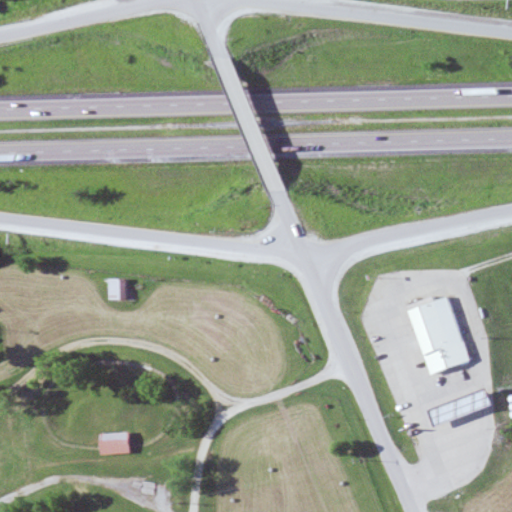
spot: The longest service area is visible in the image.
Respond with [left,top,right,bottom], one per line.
[362,268,494,508]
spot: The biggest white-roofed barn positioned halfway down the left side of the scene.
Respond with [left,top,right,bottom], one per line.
[104,278,126,301]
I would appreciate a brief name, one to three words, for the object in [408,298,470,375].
gas station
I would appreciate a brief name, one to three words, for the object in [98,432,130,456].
barn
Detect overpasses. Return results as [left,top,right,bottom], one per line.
[213,54,286,194]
